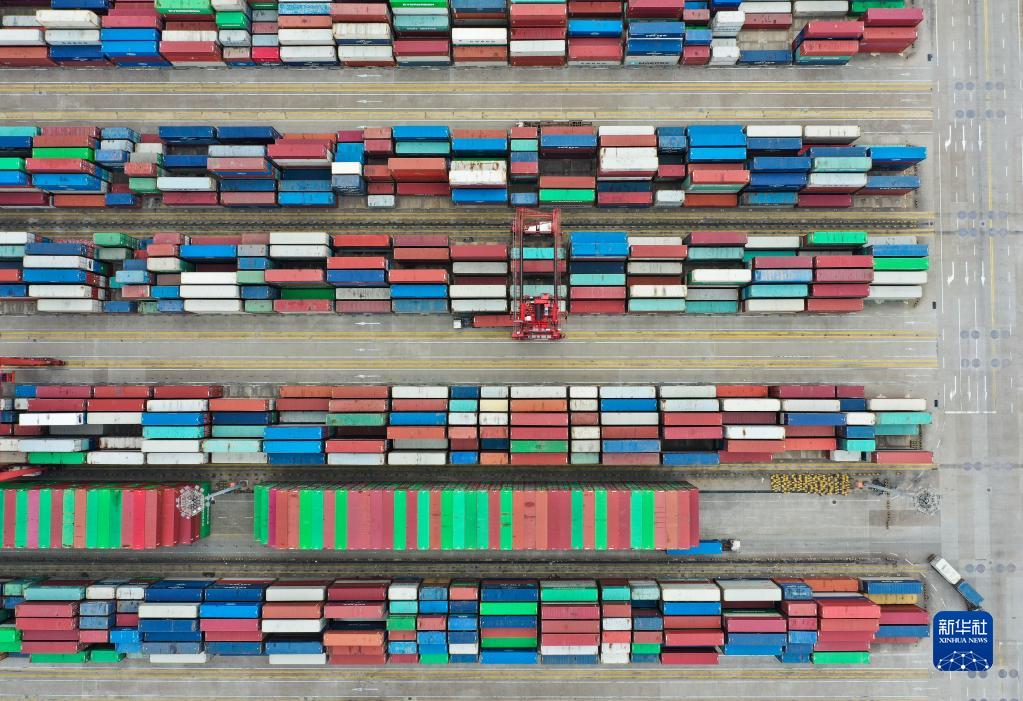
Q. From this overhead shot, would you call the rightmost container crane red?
Yes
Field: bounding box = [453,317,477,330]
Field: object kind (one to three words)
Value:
vehicle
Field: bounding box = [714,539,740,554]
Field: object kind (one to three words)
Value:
vehicle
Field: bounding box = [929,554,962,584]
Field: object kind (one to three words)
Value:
shipping container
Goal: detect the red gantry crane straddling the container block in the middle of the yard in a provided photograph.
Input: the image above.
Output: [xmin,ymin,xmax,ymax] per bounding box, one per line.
[508,206,566,338]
